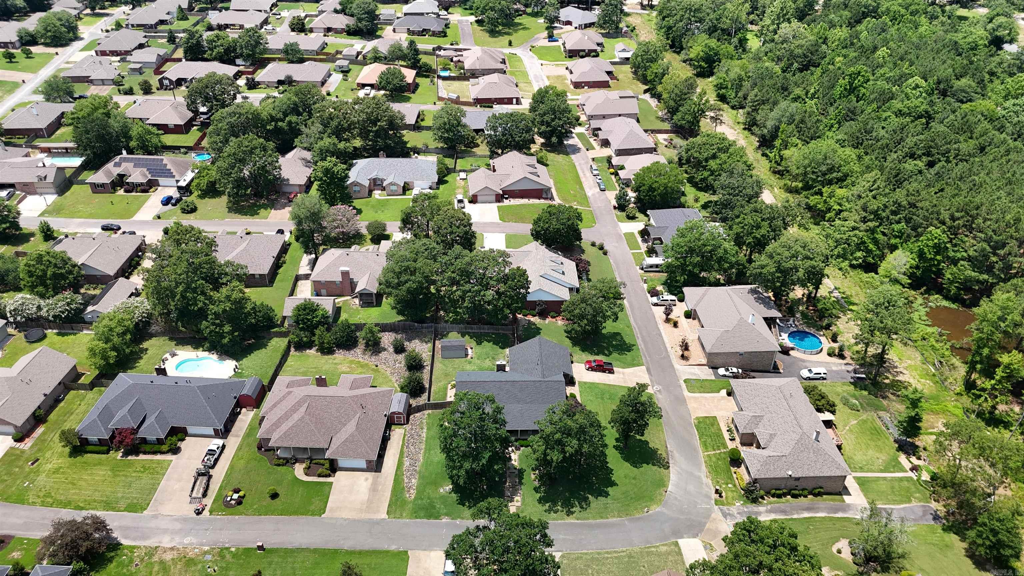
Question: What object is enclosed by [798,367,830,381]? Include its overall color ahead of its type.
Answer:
white car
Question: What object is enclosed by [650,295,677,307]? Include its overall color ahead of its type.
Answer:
white vehicle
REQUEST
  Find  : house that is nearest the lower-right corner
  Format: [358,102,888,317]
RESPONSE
[723,378,852,491]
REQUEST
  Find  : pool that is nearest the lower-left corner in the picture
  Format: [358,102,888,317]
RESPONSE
[160,351,237,378]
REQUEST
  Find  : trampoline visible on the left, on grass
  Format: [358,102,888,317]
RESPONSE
[22,328,49,345]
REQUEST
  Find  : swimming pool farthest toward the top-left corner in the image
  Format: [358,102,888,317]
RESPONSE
[34,151,88,169]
